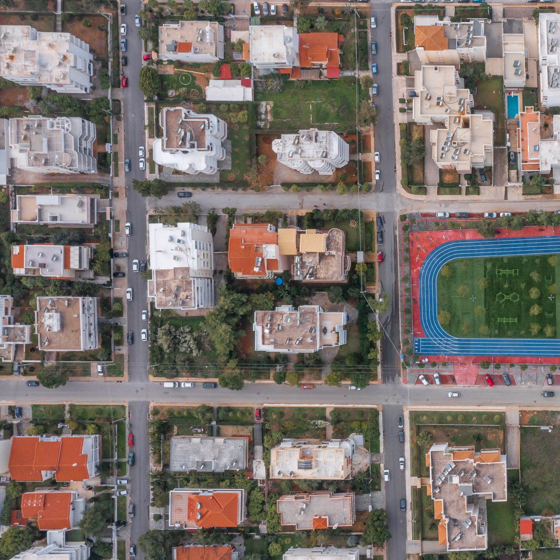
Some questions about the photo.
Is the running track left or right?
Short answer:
right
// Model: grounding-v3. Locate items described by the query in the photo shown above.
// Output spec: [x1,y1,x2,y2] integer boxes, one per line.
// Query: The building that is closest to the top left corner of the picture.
[0,24,89,95]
